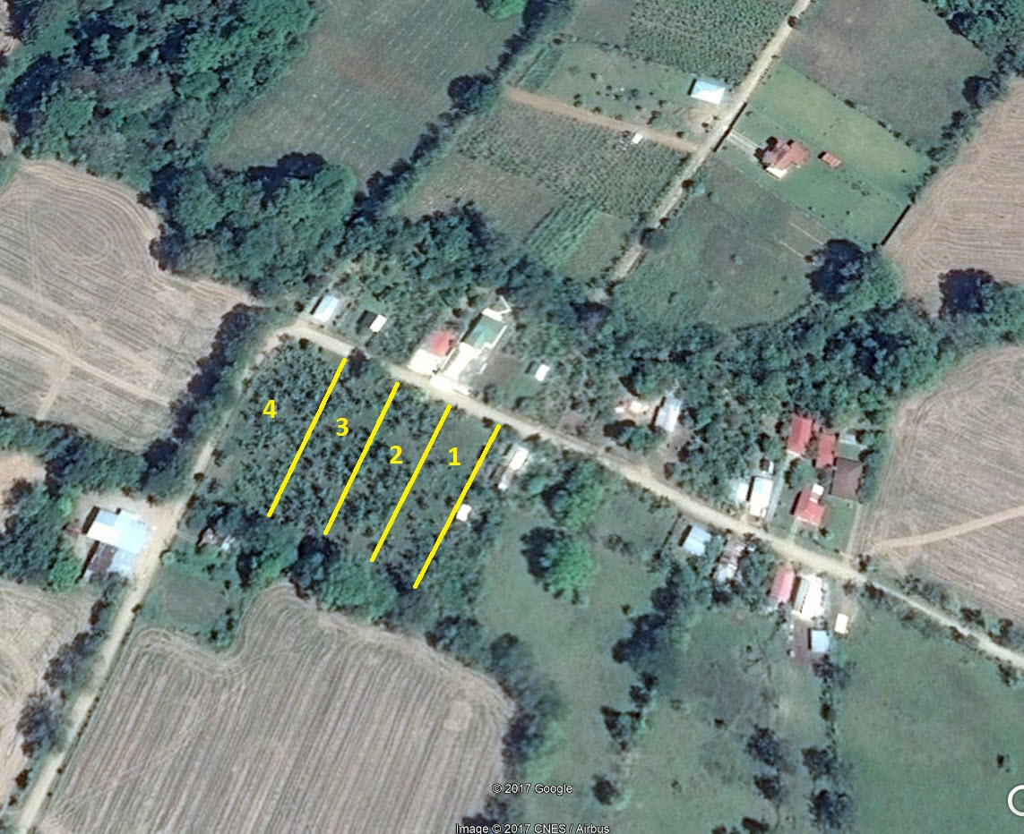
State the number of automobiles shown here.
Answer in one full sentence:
The count of automobiles is 0.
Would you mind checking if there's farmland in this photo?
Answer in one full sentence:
Yes, there's farmland in this view.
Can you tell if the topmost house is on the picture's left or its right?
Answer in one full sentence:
You can find the topmost house on the right side of the picture.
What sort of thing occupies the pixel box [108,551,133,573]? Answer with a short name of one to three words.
shed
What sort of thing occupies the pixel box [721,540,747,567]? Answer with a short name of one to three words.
house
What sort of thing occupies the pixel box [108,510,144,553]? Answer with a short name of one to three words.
house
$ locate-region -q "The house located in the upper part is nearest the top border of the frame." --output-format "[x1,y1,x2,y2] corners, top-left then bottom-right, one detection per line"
[691,78,725,104]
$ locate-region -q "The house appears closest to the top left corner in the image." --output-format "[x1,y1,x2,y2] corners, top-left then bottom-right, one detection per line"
[312,295,338,321]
